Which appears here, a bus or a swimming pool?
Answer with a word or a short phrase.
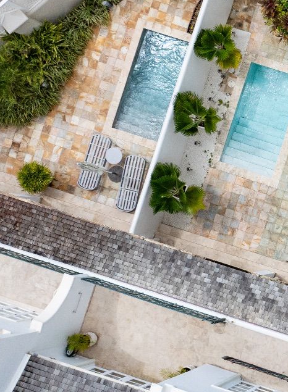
swimming pool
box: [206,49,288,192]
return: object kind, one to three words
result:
swimming pool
